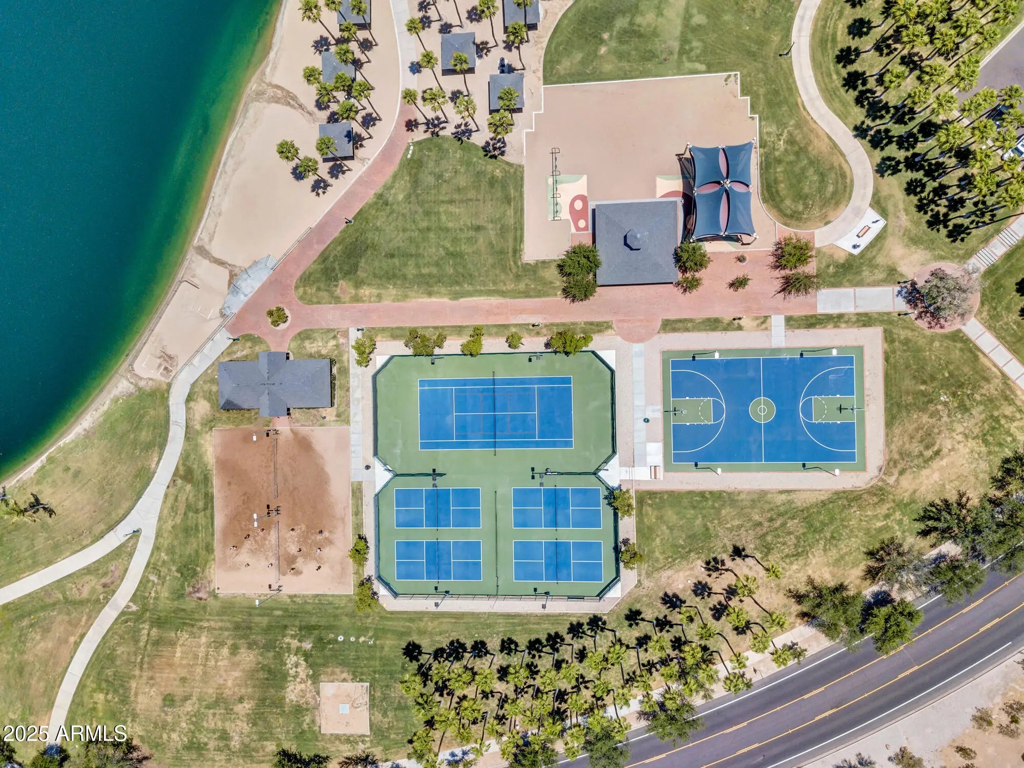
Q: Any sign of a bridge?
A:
No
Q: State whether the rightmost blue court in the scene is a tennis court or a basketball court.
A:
basketball court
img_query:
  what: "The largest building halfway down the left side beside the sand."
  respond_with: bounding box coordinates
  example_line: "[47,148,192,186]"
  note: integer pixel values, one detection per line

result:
[214,352,331,417]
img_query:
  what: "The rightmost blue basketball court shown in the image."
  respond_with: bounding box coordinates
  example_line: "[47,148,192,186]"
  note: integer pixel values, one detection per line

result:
[662,346,866,472]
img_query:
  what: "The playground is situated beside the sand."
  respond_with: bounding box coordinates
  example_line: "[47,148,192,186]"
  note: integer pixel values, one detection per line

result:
[523,72,815,261]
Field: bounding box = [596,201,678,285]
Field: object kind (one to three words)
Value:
building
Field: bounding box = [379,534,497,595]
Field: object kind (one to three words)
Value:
sports court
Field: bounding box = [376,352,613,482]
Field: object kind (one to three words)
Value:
tennis court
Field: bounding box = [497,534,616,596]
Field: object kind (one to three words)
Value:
sports court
